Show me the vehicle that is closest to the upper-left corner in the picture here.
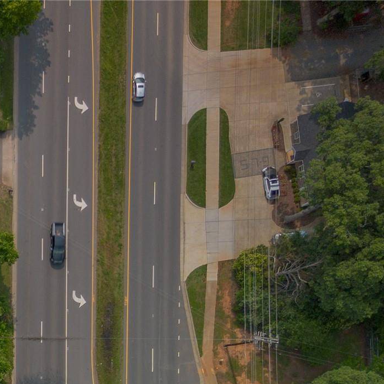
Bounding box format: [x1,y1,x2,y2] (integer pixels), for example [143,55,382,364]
[131,73,147,104]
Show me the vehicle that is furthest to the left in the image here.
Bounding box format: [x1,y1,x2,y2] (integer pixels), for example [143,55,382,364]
[49,222,66,266]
